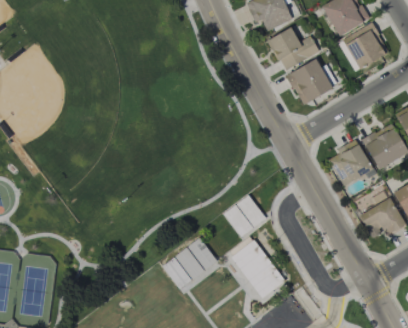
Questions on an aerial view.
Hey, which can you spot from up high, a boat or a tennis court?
tennis court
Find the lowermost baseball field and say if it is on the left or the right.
left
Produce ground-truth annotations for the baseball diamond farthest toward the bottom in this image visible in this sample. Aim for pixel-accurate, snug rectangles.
[0,18,120,204]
